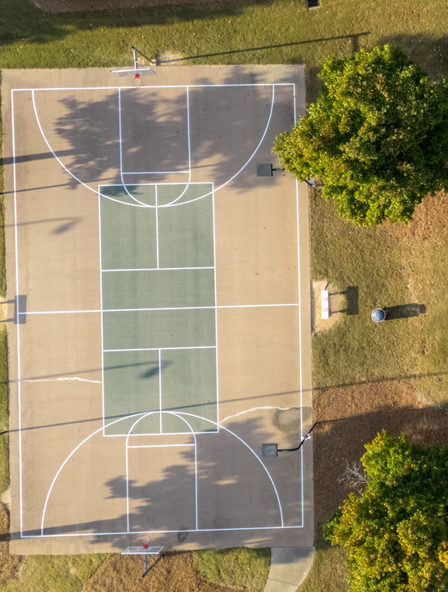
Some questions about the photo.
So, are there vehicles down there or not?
No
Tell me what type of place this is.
sports ground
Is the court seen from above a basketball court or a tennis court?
basketball court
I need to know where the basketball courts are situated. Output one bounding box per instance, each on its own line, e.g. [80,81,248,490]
[1,65,314,554]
